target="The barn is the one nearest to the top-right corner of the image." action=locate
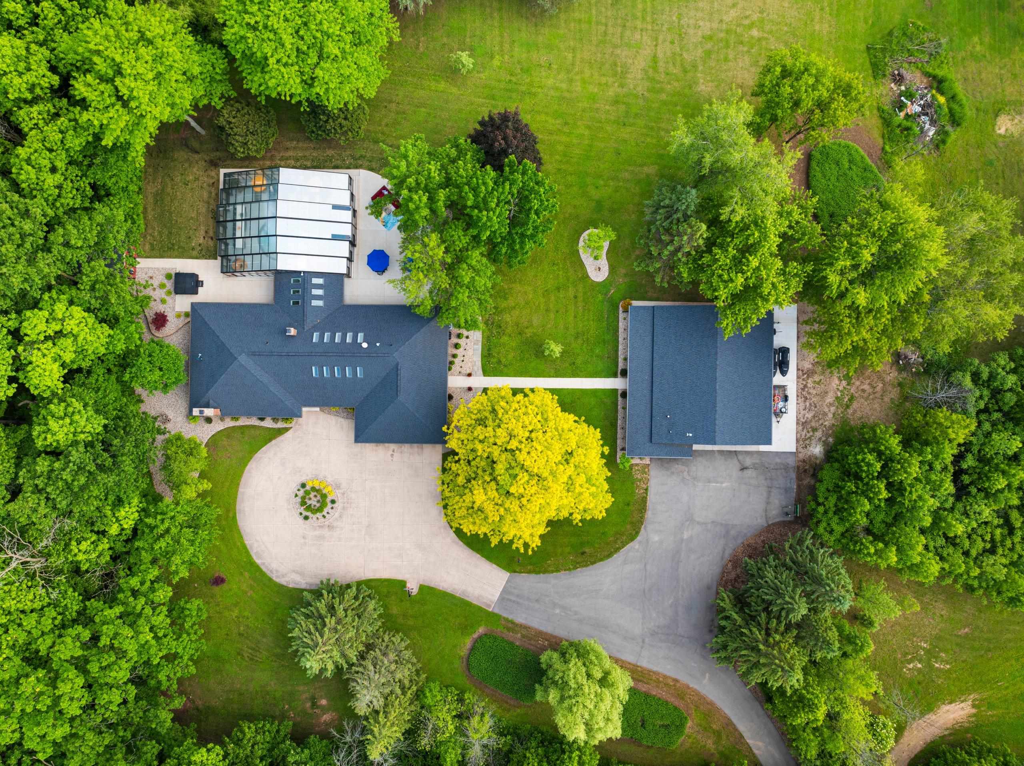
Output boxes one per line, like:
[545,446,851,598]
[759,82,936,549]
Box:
[625,305,775,459]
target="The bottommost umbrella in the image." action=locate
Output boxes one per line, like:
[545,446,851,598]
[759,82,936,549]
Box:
[367,249,390,272]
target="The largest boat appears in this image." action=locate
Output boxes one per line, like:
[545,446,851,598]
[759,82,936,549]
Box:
[777,346,789,377]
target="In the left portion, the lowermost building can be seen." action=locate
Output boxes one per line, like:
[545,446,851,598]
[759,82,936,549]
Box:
[188,270,450,446]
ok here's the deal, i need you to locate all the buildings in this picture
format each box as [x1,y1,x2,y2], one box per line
[188,270,450,446]
[625,305,775,459]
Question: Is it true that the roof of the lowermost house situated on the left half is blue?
Yes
